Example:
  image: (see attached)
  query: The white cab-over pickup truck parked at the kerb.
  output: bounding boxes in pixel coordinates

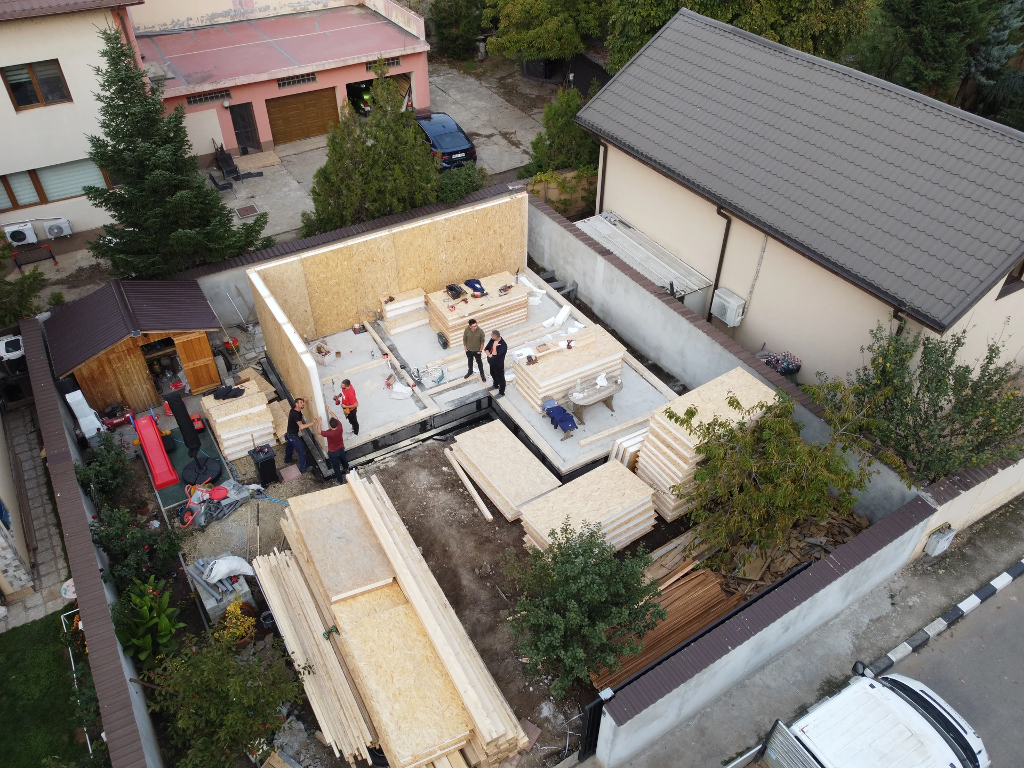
[741,660,981,768]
